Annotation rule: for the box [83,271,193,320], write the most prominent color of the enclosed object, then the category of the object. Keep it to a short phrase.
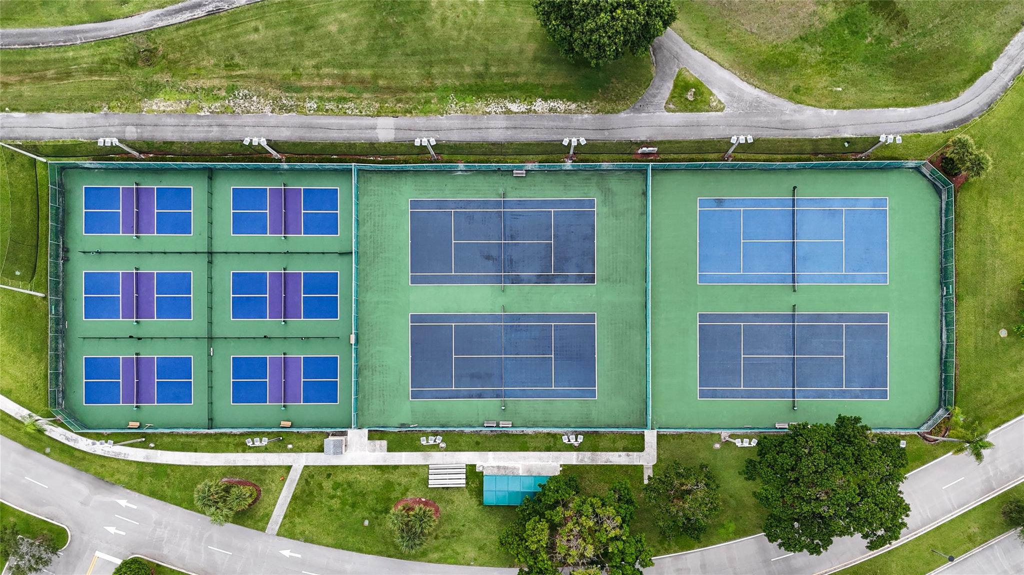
blue sports court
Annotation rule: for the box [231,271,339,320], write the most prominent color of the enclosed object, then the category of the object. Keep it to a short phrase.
blue sports court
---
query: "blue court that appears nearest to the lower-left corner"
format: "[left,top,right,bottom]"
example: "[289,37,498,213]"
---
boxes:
[83,356,193,405]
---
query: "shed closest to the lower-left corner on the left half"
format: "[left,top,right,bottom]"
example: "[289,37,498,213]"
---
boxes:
[324,436,350,456]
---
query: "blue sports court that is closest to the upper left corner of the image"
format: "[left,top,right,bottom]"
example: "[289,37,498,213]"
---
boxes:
[83,186,193,235]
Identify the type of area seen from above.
sports ground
